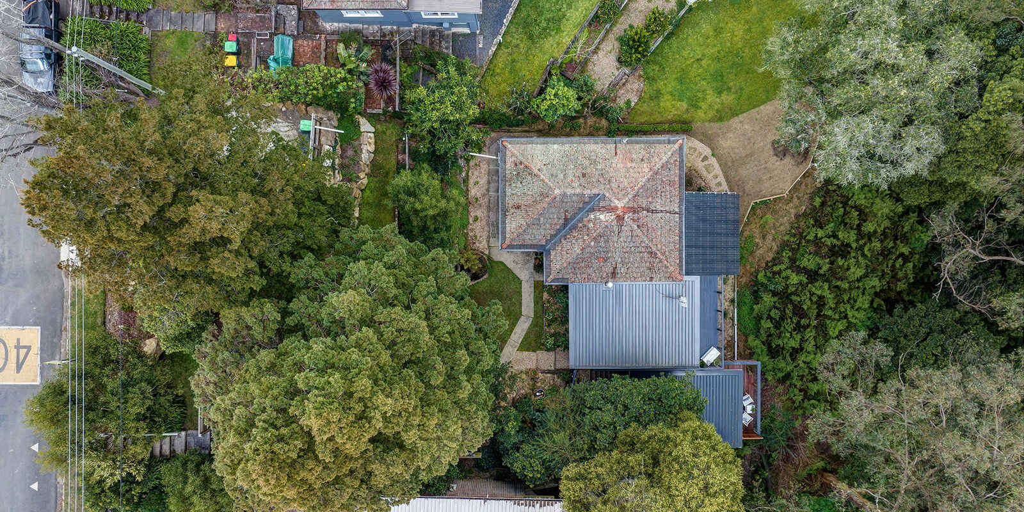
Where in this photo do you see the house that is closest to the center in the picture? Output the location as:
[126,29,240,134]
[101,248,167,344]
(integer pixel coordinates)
[470,136,699,379]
